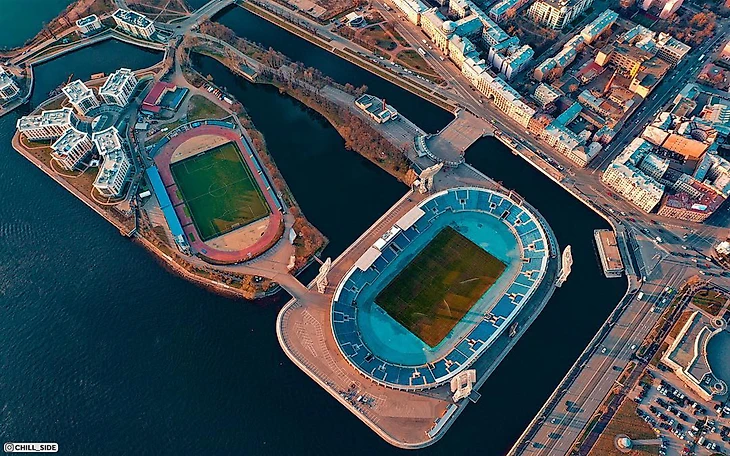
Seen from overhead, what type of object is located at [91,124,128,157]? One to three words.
building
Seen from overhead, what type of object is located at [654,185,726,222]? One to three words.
house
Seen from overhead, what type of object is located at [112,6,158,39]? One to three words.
house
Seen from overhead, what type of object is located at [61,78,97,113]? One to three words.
building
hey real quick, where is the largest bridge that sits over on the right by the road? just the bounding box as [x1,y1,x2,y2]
[436,114,494,150]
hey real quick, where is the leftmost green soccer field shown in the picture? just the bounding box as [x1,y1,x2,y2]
[171,141,271,240]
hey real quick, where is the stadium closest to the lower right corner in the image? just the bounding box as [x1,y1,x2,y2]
[331,187,548,393]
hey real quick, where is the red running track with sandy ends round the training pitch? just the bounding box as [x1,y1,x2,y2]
[162,126,281,260]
